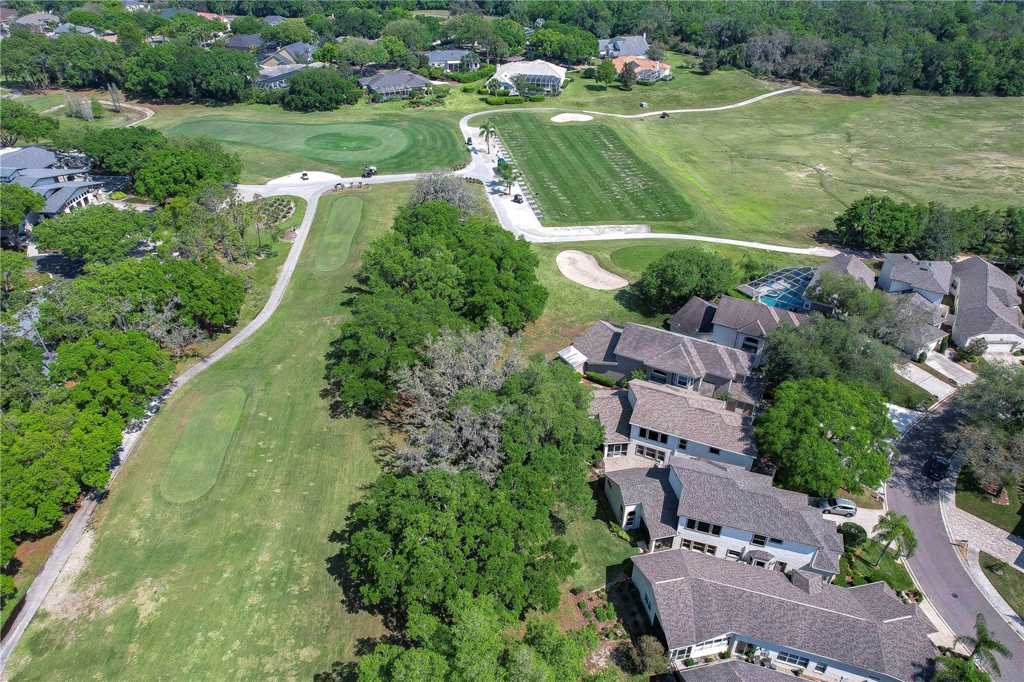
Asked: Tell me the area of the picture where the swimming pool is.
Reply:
right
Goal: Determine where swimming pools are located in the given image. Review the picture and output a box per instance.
[760,281,809,310]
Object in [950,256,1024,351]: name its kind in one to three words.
house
